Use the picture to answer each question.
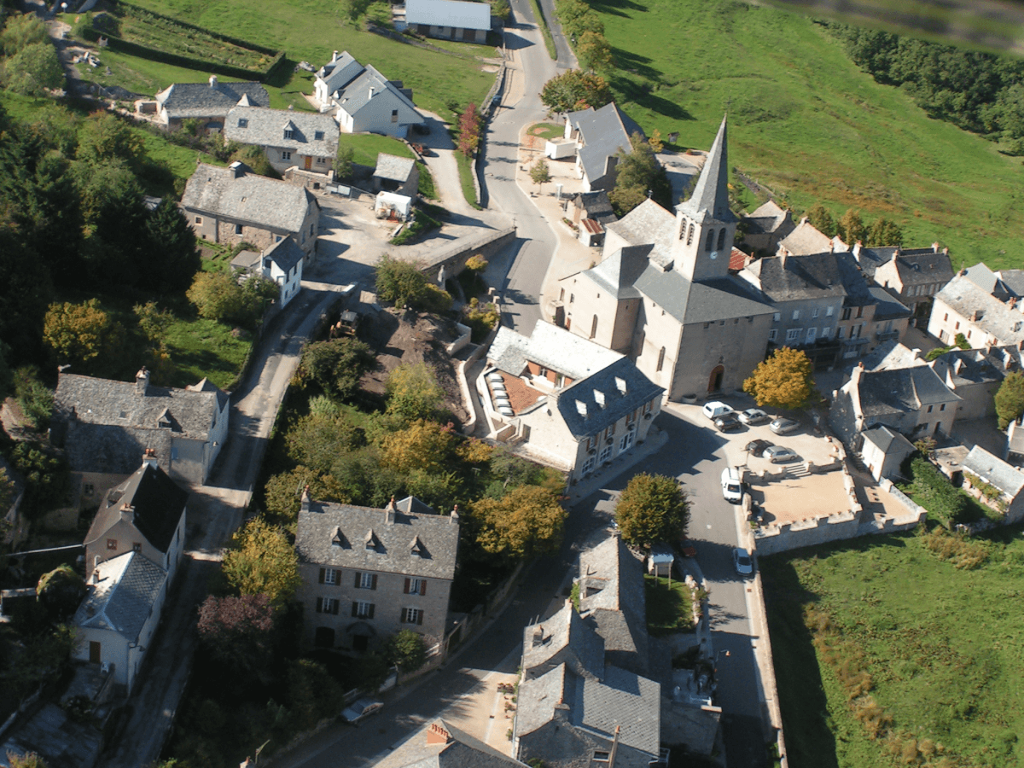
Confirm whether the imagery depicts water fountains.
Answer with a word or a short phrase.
No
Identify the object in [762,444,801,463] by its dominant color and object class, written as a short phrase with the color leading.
gray car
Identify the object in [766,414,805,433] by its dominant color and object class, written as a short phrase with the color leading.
gray car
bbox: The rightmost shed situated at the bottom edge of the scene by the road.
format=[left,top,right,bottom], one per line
[658,698,719,768]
